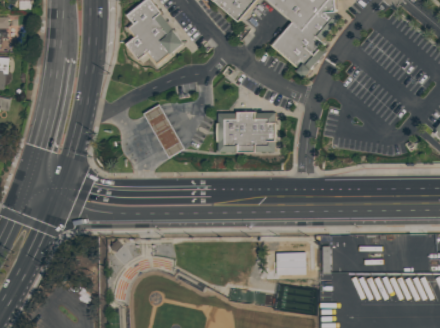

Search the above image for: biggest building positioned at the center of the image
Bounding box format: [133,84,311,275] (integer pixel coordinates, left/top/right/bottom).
[216,112,276,154]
